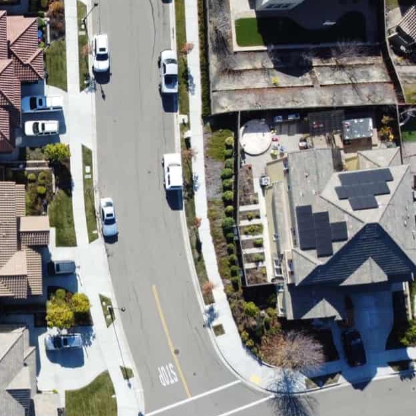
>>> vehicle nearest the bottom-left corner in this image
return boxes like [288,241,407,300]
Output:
[44,333,83,352]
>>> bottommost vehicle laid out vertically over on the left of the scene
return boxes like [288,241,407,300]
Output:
[99,198,119,238]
